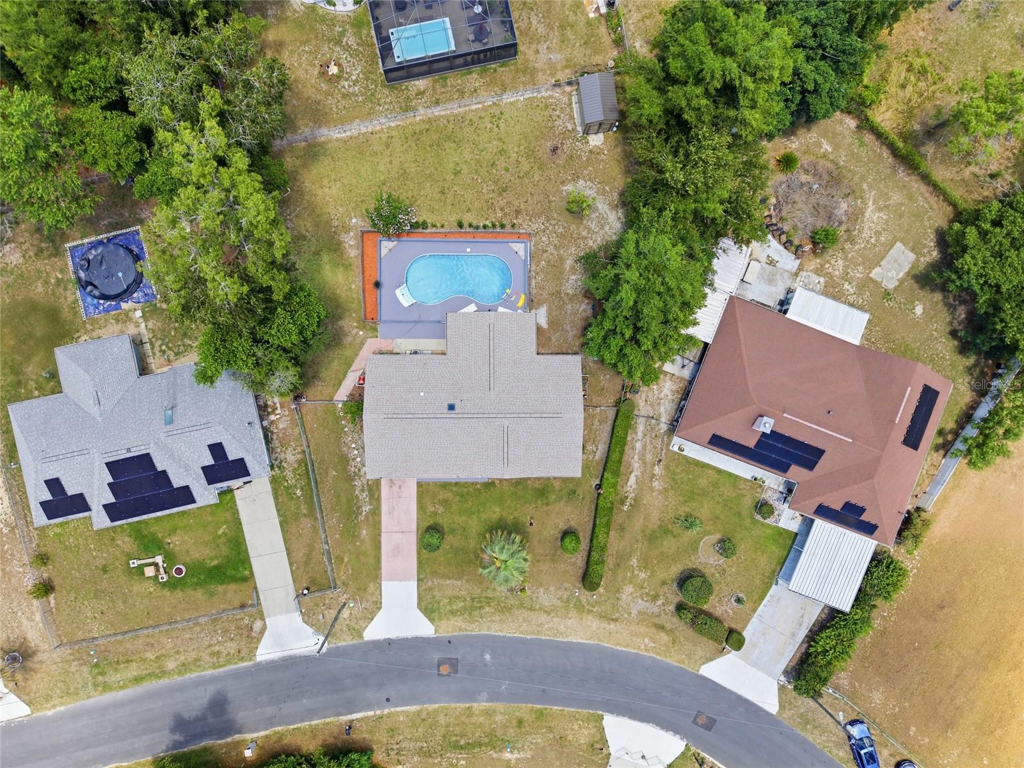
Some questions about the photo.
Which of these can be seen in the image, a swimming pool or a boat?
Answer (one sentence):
Looking from above, you can make out a swimming pool.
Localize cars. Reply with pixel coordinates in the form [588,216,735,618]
[896,760,920,768]
[849,718,888,768]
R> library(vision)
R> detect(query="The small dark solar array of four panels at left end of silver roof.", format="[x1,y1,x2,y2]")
[39,479,90,521]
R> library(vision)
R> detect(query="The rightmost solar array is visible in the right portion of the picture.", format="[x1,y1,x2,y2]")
[900,384,935,451]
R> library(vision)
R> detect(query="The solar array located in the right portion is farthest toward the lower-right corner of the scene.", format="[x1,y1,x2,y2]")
[815,502,877,535]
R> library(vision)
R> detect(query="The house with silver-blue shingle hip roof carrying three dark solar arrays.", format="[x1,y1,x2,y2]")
[6,333,275,530]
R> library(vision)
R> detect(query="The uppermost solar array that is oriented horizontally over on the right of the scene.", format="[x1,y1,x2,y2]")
[707,433,825,474]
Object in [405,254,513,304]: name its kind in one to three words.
swimming pool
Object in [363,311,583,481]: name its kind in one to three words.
house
